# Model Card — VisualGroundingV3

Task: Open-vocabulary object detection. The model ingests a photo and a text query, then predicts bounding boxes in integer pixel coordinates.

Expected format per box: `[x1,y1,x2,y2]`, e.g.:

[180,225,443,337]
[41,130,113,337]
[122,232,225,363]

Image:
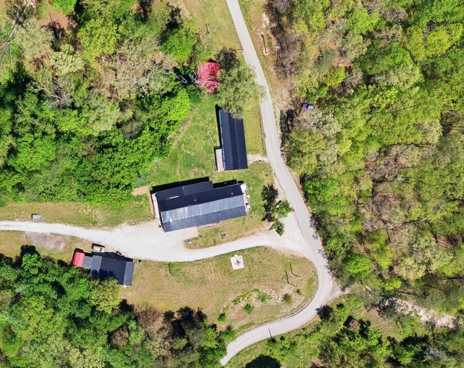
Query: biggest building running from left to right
[151,181,245,232]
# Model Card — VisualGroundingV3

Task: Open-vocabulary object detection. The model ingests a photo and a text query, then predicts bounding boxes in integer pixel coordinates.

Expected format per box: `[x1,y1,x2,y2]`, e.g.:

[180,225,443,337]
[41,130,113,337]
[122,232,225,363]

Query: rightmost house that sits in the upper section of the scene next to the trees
[214,108,248,171]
